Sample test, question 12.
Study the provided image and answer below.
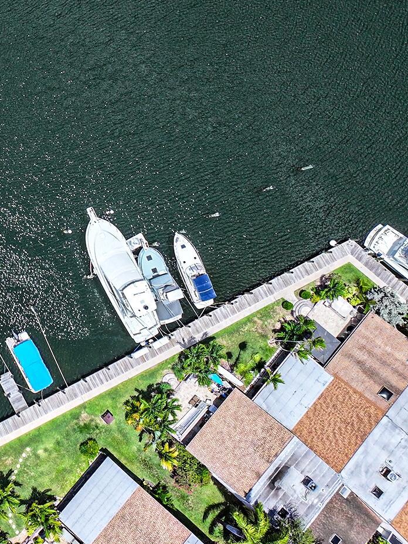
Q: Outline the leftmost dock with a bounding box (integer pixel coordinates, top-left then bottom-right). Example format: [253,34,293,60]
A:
[0,371,28,413]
